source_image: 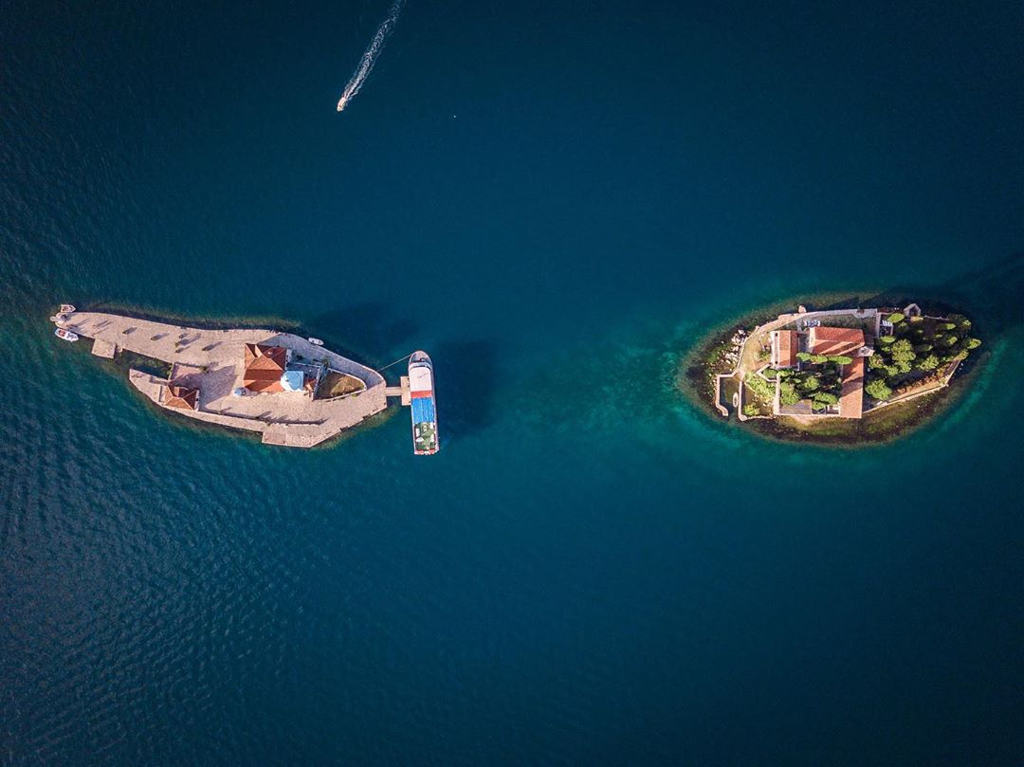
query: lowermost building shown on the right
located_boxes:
[837,357,863,418]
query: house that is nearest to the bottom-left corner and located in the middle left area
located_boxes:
[164,384,200,410]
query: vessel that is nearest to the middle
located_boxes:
[409,351,439,456]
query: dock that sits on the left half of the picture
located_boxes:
[387,376,411,405]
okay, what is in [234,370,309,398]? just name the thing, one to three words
building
